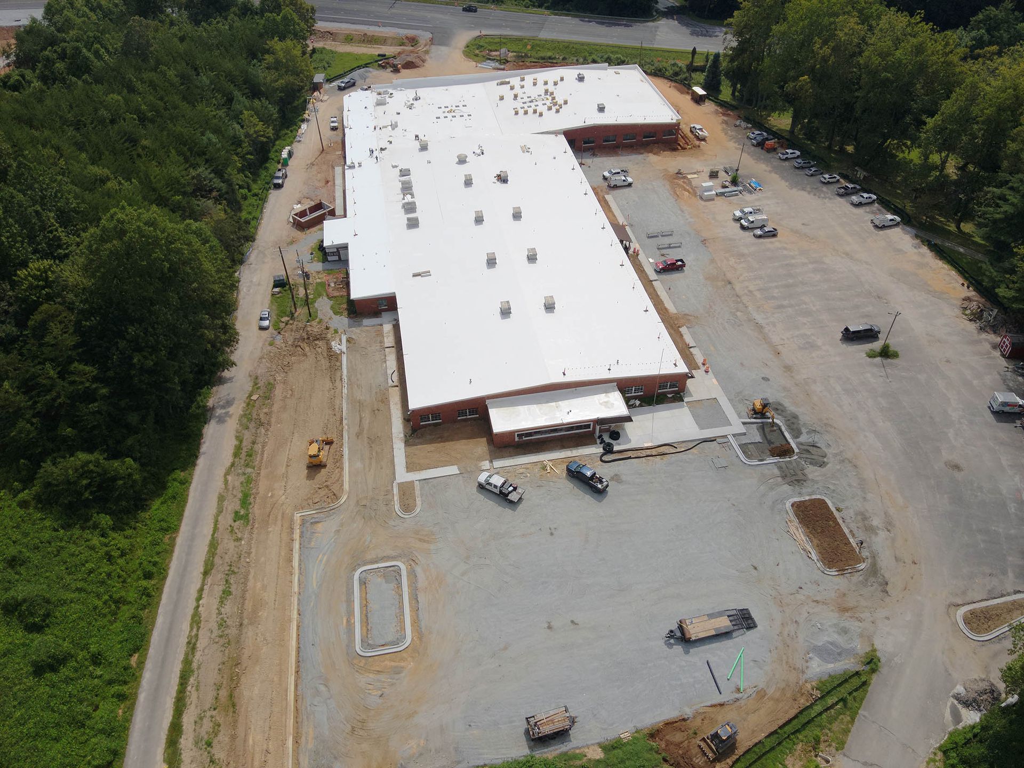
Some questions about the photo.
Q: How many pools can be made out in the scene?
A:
0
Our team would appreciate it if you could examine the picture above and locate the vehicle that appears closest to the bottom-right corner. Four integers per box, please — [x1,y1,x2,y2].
[696,719,740,763]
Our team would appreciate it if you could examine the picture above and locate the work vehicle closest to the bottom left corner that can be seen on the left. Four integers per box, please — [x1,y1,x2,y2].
[306,437,334,468]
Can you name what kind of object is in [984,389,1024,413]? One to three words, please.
truck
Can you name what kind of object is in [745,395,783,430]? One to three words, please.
work vehicle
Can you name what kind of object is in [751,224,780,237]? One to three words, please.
vehicle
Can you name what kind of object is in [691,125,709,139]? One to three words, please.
vehicle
